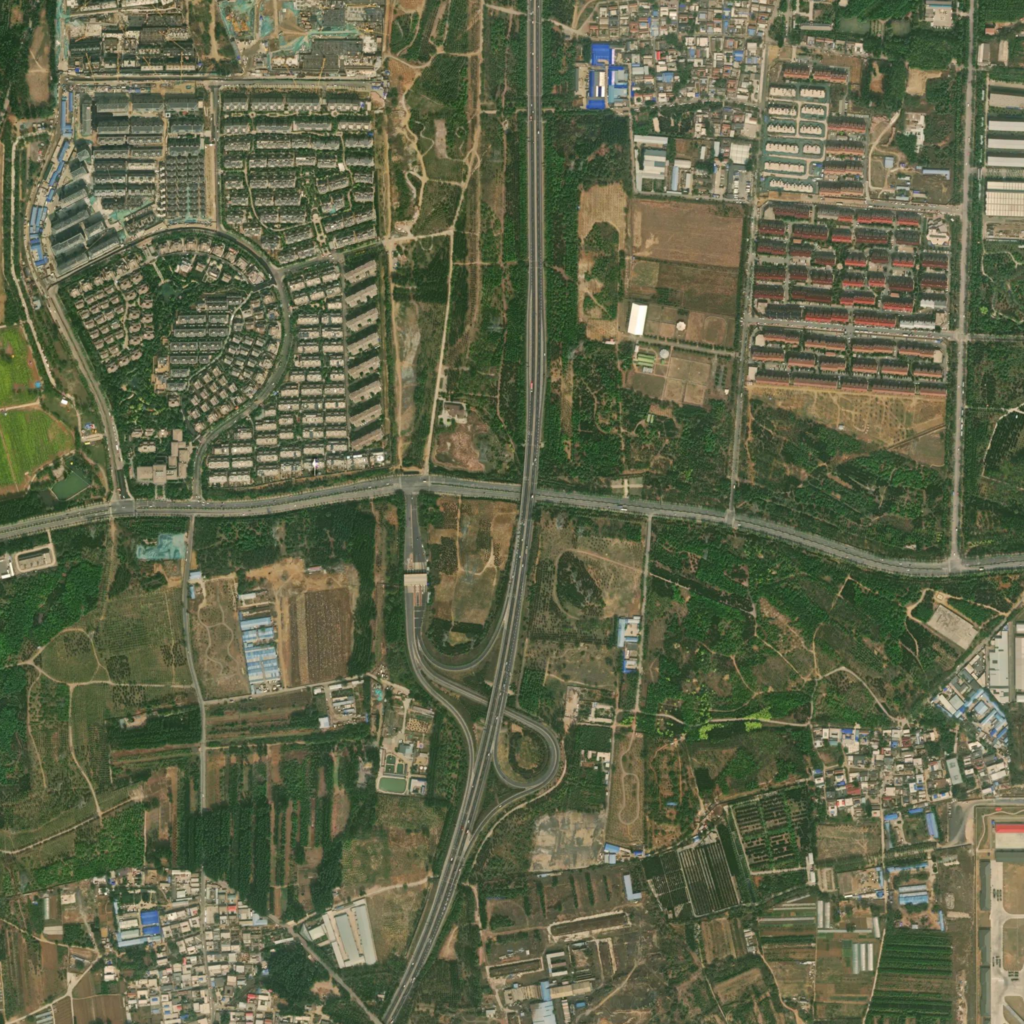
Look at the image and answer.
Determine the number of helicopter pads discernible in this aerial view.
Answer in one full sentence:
Not a single helicopter pad can be seen.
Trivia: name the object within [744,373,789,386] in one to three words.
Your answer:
building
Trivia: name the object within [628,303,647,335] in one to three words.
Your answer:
tent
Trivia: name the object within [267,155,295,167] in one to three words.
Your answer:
house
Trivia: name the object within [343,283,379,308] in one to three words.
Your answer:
building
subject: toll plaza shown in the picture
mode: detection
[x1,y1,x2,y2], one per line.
[404,570,427,599]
